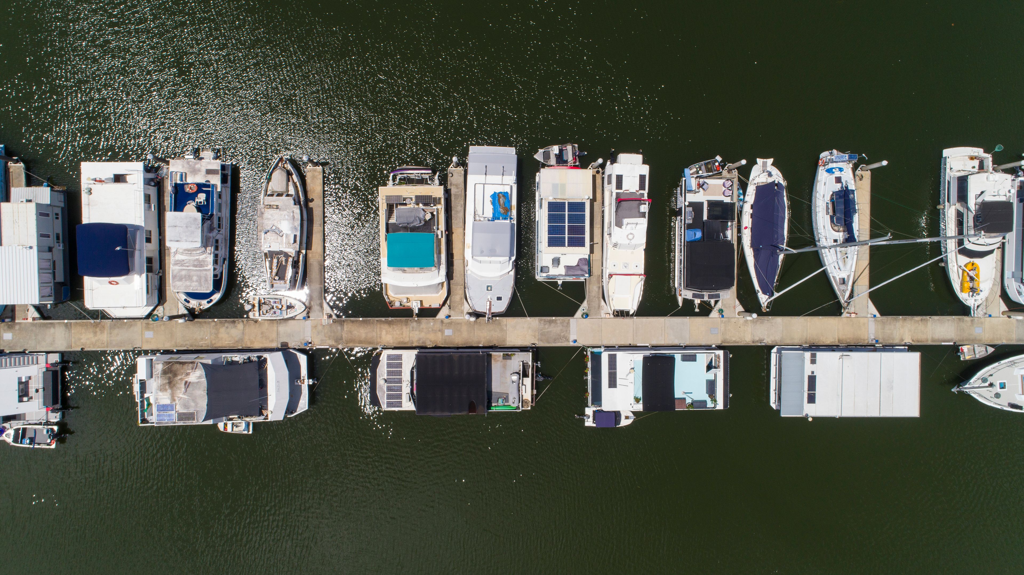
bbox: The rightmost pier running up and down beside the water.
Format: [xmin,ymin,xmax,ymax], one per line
[977,245,1008,316]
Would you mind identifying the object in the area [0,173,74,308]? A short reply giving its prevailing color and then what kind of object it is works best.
white boat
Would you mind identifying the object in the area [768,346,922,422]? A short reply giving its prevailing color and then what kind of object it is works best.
white boat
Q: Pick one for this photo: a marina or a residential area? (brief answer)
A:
marina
